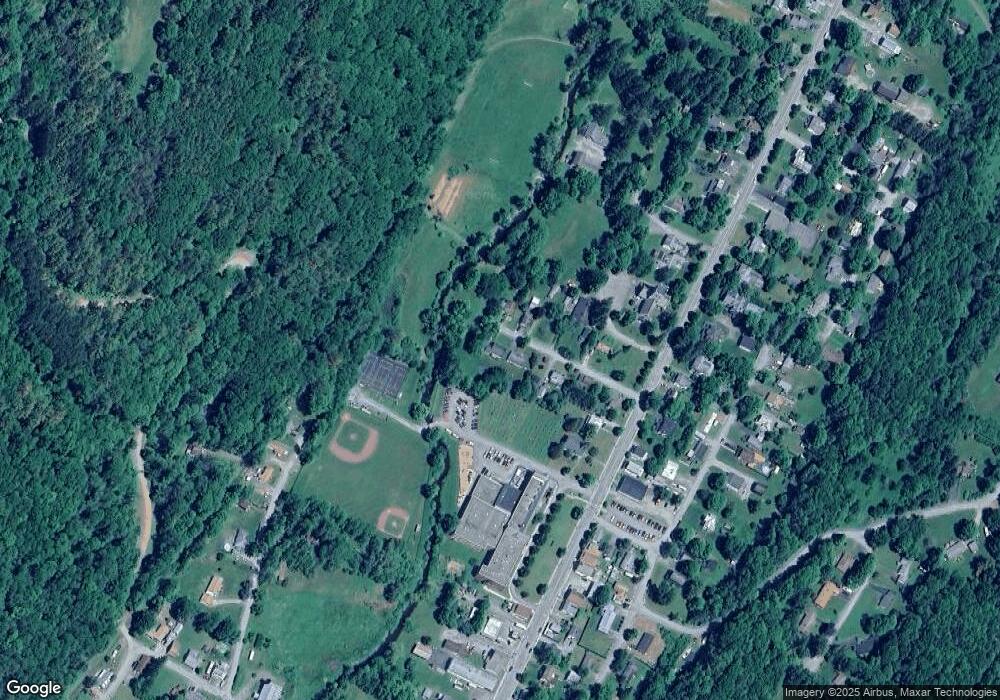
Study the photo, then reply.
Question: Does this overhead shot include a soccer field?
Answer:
Yes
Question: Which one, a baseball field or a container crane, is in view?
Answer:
baseball field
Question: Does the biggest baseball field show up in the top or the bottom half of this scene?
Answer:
bottom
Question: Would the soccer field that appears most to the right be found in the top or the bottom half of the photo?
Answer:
top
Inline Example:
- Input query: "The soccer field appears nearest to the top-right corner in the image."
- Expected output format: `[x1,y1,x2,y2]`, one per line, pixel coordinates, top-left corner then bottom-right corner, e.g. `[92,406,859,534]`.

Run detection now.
[467,74,554,173]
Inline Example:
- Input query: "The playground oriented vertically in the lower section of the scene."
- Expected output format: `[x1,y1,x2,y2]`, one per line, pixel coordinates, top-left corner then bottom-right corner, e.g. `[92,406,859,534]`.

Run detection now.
[458,444,474,499]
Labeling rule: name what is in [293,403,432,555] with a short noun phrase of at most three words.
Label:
baseball field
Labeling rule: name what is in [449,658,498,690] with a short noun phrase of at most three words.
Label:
barn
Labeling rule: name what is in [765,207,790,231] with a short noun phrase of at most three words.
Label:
building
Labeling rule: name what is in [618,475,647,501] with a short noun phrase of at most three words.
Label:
building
